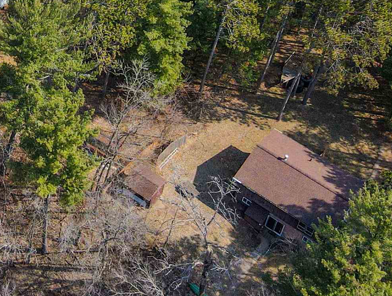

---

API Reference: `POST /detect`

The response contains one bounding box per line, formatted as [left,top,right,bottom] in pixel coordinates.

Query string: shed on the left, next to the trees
[118,160,167,211]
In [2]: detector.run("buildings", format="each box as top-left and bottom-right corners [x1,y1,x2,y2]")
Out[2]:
[226,128,379,265]
[118,160,167,211]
